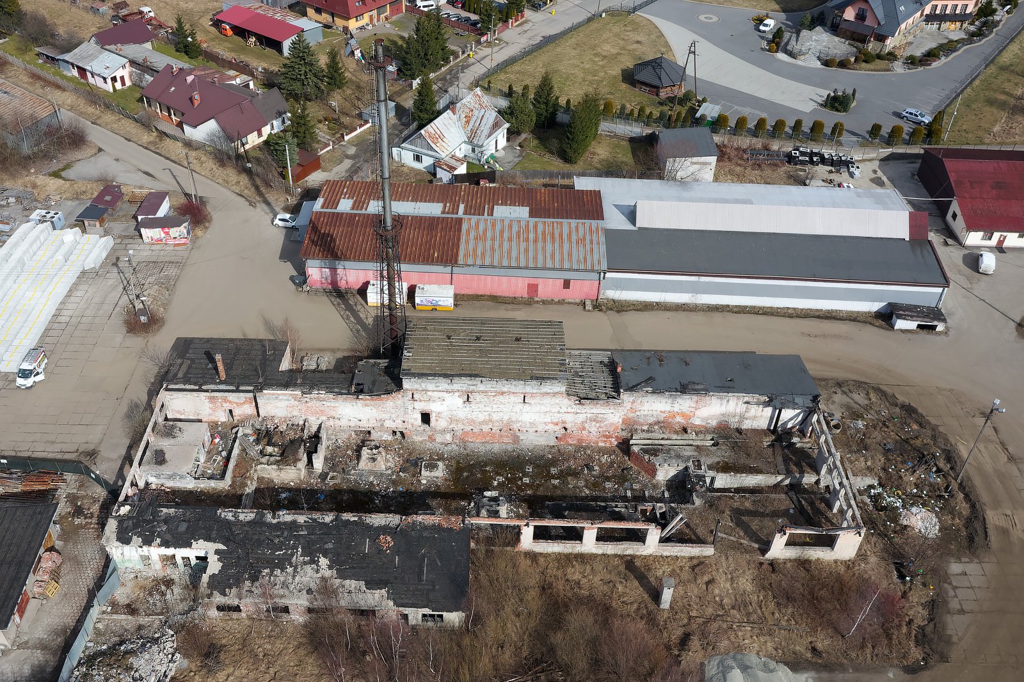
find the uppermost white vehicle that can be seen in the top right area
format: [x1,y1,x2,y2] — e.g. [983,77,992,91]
[758,16,777,33]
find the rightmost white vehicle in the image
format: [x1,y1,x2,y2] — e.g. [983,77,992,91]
[978,244,1000,270]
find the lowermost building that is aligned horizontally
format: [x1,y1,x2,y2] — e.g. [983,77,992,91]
[96,316,879,631]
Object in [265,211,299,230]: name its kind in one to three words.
car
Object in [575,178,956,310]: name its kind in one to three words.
warehouse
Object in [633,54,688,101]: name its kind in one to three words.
gazebo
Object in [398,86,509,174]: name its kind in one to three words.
house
